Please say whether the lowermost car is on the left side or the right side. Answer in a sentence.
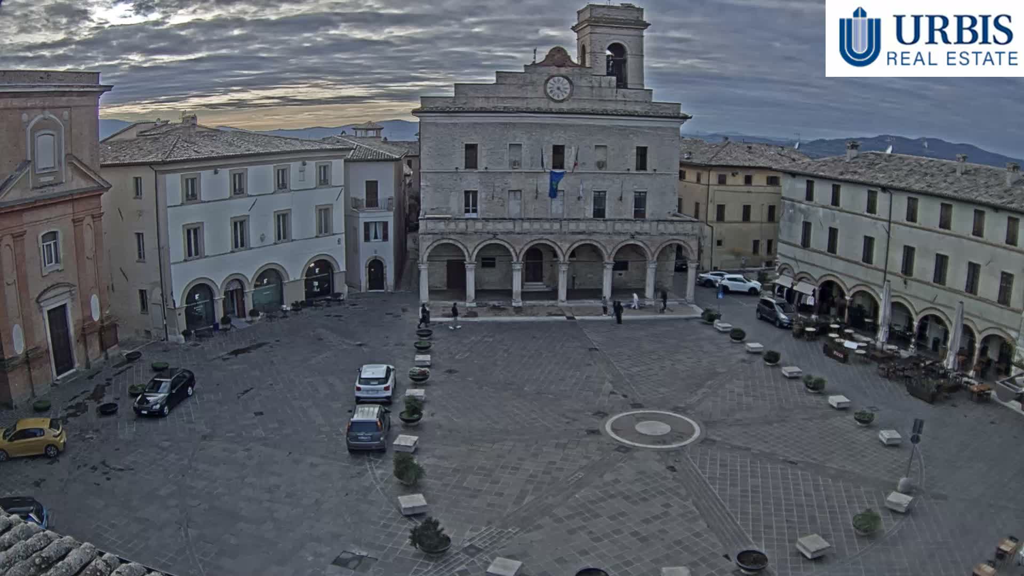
The lowermost car is on the left side of the image.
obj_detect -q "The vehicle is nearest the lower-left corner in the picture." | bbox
[0,485,44,527]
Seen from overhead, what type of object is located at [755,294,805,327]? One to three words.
car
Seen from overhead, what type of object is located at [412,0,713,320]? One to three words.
building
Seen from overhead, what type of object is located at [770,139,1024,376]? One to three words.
building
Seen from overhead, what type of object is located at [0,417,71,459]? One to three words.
car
